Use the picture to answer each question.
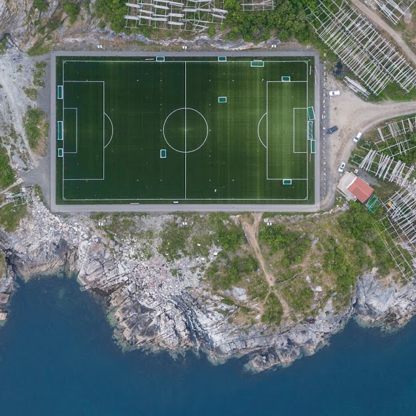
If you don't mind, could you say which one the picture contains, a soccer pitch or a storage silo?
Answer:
soccer pitch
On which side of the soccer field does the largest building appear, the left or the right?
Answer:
to its right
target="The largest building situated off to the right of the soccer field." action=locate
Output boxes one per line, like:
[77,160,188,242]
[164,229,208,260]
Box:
[337,172,374,203]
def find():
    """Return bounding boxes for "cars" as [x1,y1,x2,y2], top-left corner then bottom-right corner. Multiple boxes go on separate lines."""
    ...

[326,126,338,133]
[338,160,345,172]
[329,90,339,95]
[353,131,362,142]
